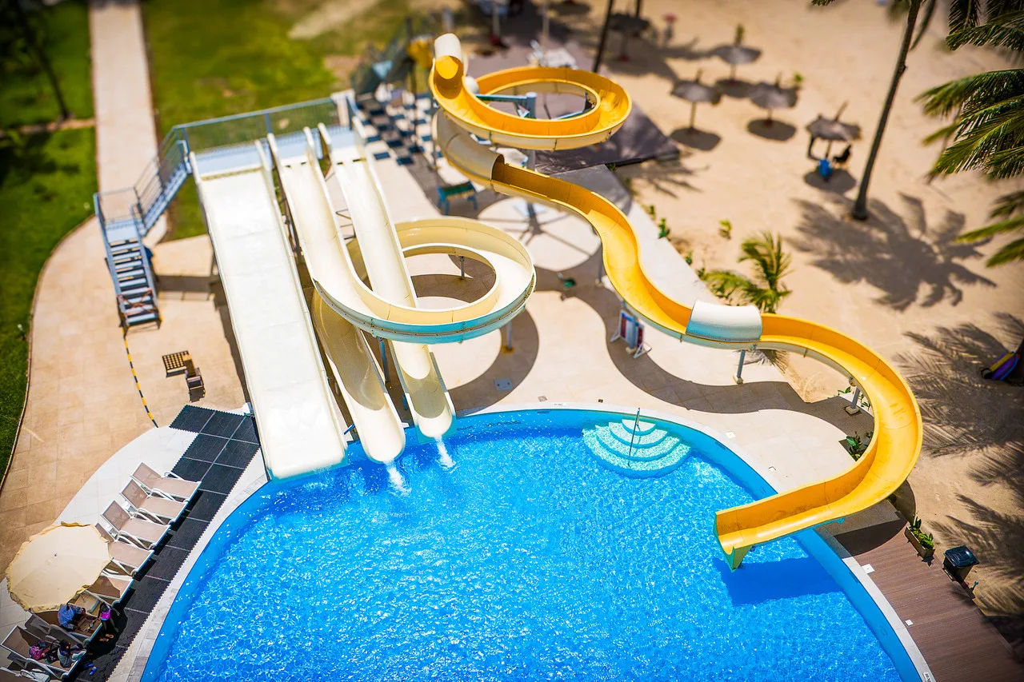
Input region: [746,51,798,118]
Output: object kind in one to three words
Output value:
umbrella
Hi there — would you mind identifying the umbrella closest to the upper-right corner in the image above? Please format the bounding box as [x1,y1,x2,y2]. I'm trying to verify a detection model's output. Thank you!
[807,94,867,157]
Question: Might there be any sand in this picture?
Yes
